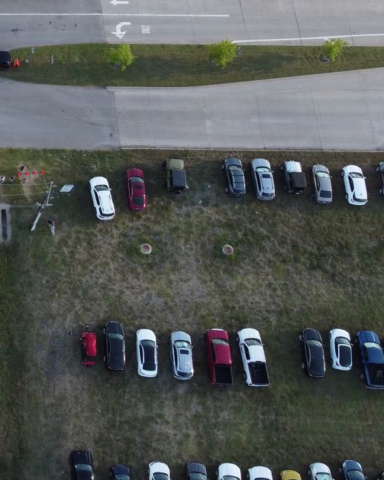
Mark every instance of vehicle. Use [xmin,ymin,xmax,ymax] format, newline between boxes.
[68,449,97,480]
[0,48,13,70]
[339,166,370,208]
[215,462,242,480]
[101,322,128,374]
[306,166,335,207]
[326,330,355,374]
[306,463,334,480]
[354,331,384,390]
[123,168,148,214]
[145,462,173,480]
[204,328,236,388]
[182,462,210,480]
[297,328,329,380]
[249,159,279,203]
[79,333,99,365]
[340,460,370,480]
[135,330,160,380]
[168,331,196,382]
[279,470,303,480]
[109,464,131,480]
[373,162,384,199]
[221,158,248,201]
[247,464,274,480]
[236,328,274,388]
[88,178,116,223]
